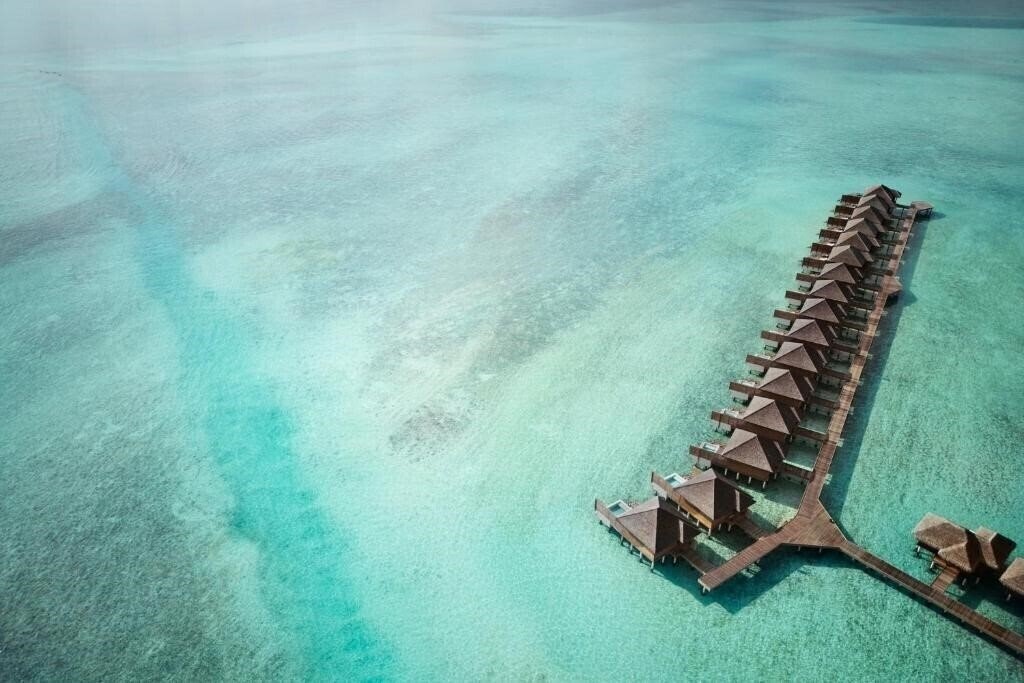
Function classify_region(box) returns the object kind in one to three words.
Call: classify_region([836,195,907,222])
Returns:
house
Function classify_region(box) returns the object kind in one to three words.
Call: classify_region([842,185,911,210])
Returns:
house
